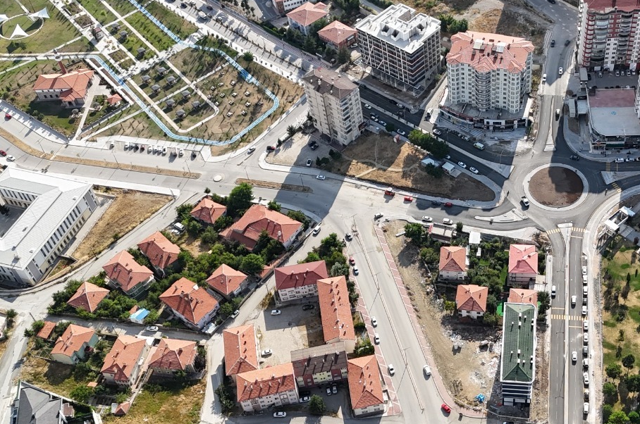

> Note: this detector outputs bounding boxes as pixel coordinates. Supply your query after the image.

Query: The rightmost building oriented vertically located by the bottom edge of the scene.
[500,302,538,410]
